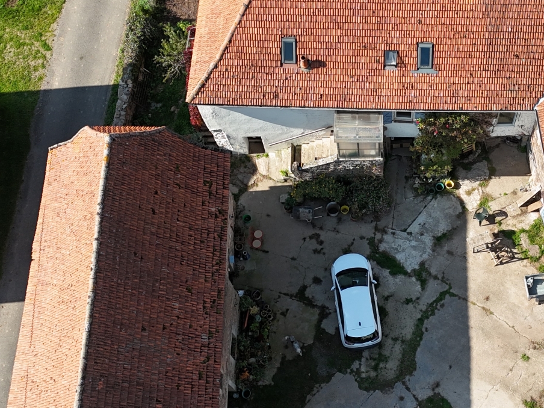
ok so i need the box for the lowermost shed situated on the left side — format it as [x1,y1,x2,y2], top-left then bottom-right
[6,117,251,408]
